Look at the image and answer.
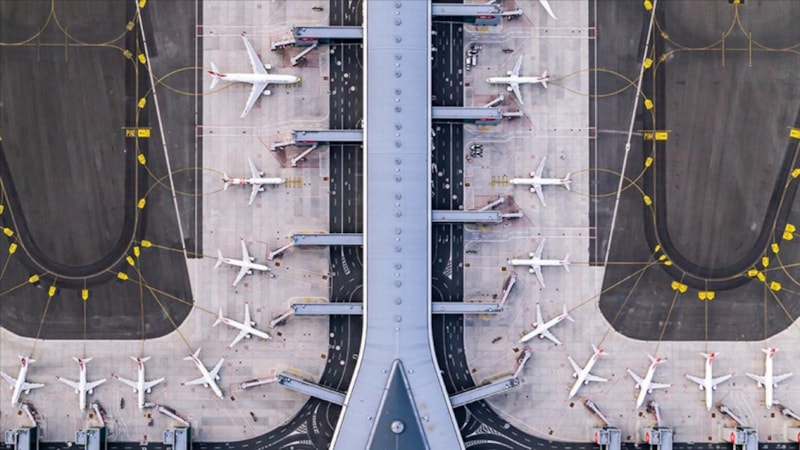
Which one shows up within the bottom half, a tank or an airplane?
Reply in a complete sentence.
Looking within the bottom half, you will find an airplane.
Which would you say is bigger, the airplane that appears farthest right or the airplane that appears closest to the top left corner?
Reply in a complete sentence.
The airplane that appears closest to the top left corner takes up more space than the airplane that appears farthest right does.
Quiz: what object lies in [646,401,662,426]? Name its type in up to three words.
jet bridge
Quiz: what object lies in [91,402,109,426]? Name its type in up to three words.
jet bridge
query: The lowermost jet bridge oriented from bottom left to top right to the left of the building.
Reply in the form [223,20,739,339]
[269,311,292,330]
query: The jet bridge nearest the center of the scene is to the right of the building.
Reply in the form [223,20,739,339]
[477,198,505,210]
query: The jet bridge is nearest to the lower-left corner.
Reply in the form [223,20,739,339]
[20,402,42,427]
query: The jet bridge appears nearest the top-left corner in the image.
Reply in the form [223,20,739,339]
[270,38,297,55]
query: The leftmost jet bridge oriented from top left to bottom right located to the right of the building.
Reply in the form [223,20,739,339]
[583,398,609,426]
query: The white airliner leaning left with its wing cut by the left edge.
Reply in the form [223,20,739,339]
[0,355,44,406]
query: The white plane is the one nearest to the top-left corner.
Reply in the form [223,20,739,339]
[202,28,301,120]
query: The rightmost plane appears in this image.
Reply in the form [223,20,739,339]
[746,348,798,407]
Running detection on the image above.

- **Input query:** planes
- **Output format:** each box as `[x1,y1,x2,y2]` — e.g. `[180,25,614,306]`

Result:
[509,155,572,207]
[746,348,798,407]
[685,352,738,409]
[629,353,677,407]
[507,238,571,290]
[202,28,301,120]
[0,355,44,406]
[52,357,106,412]
[223,155,285,207]
[212,301,272,348]
[214,238,271,287]
[112,356,165,411]
[520,301,578,346]
[177,345,223,398]
[486,52,551,105]
[567,344,614,398]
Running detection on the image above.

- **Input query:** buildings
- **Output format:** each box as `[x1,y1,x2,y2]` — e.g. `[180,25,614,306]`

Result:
[329,0,466,450]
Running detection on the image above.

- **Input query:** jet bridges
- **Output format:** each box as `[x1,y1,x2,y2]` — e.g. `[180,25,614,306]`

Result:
[482,95,505,106]
[269,142,297,153]
[498,274,516,308]
[513,349,530,378]
[240,376,280,389]
[144,402,193,426]
[583,398,609,426]
[715,405,745,427]
[270,38,297,55]
[646,401,662,426]
[500,111,523,120]
[501,211,524,219]
[20,402,42,427]
[268,243,295,260]
[477,198,505,210]
[91,402,109,426]
[269,311,292,330]
[290,144,318,167]
[290,44,317,68]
